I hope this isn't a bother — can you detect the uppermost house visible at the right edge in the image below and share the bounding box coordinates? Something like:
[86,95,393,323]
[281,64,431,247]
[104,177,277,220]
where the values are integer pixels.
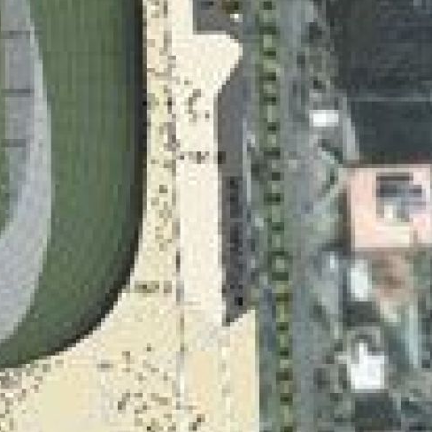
[349,167,432,249]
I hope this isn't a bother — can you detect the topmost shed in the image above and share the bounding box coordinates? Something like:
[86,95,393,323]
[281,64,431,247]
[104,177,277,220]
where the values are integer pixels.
[315,112,341,125]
